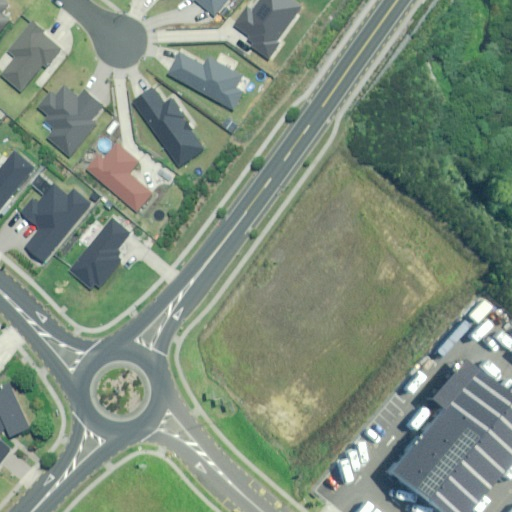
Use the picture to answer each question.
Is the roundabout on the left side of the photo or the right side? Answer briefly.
left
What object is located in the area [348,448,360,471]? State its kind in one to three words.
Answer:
vehicle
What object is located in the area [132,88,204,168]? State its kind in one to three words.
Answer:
house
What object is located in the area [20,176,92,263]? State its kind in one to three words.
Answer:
house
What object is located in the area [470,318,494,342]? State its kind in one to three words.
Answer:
truck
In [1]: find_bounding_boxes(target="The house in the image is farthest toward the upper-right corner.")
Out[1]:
[233,0,303,62]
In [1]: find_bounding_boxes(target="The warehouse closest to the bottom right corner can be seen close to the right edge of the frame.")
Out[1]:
[386,358,512,512]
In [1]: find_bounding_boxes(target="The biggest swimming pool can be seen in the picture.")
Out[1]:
[97,138,112,154]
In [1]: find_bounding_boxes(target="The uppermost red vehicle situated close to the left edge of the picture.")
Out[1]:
[23,224,38,238]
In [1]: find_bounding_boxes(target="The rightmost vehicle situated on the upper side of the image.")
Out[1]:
[236,40,250,52]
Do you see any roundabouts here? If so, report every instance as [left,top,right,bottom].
[72,342,170,440]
